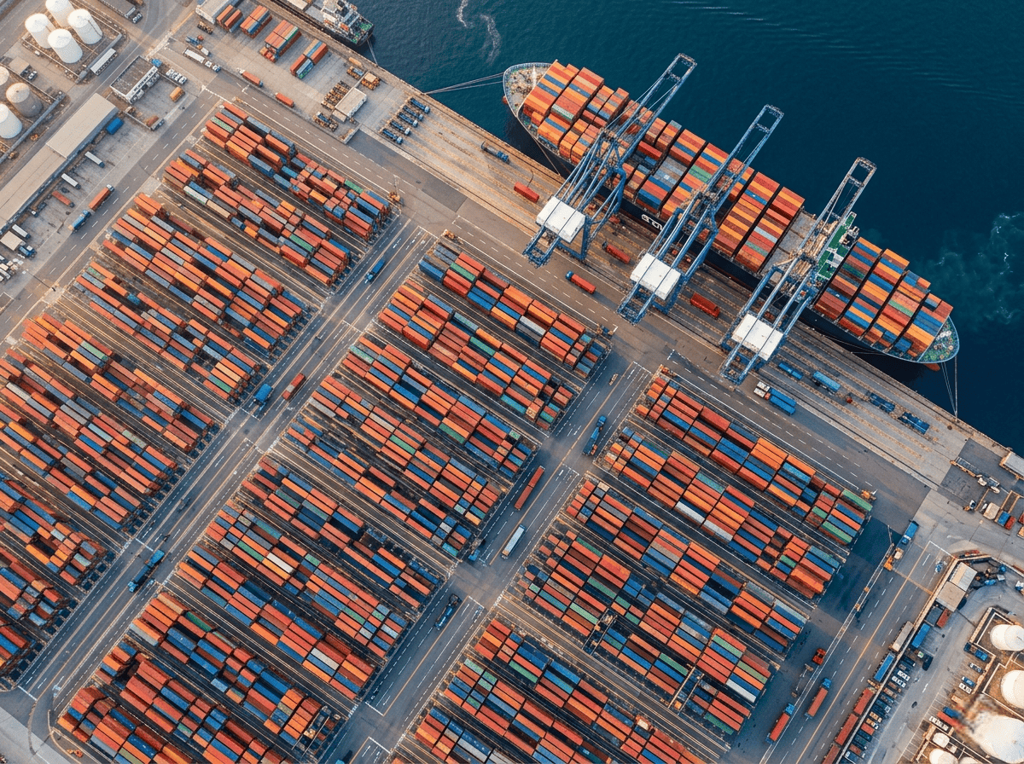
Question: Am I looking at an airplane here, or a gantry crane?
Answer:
gantry crane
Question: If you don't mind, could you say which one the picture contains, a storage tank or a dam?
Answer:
storage tank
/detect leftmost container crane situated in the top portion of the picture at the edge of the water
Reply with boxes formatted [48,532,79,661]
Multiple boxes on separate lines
[517,50,698,272]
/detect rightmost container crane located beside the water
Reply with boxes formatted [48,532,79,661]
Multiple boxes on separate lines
[713,151,883,396]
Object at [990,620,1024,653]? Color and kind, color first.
white storage tank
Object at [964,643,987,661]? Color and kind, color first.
blue vehicle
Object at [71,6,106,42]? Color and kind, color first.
white storage tank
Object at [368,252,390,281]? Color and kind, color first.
blue truck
